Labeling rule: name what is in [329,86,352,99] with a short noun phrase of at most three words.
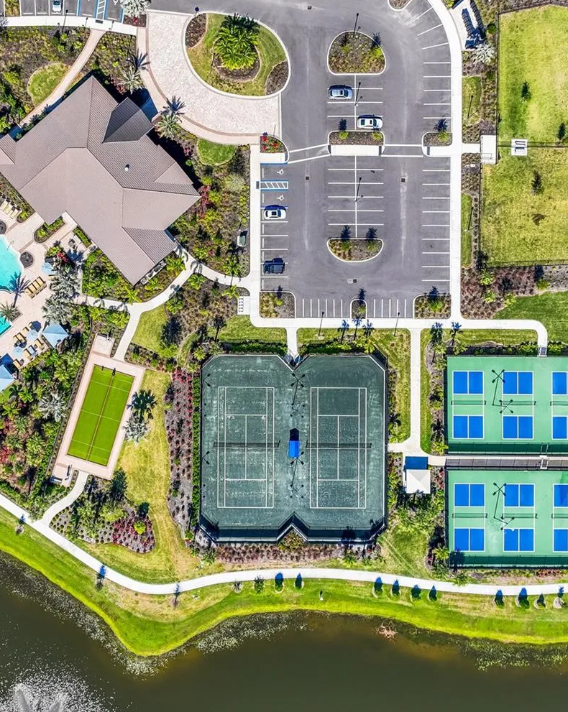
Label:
vehicle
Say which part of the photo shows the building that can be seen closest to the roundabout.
top left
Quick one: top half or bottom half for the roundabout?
top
